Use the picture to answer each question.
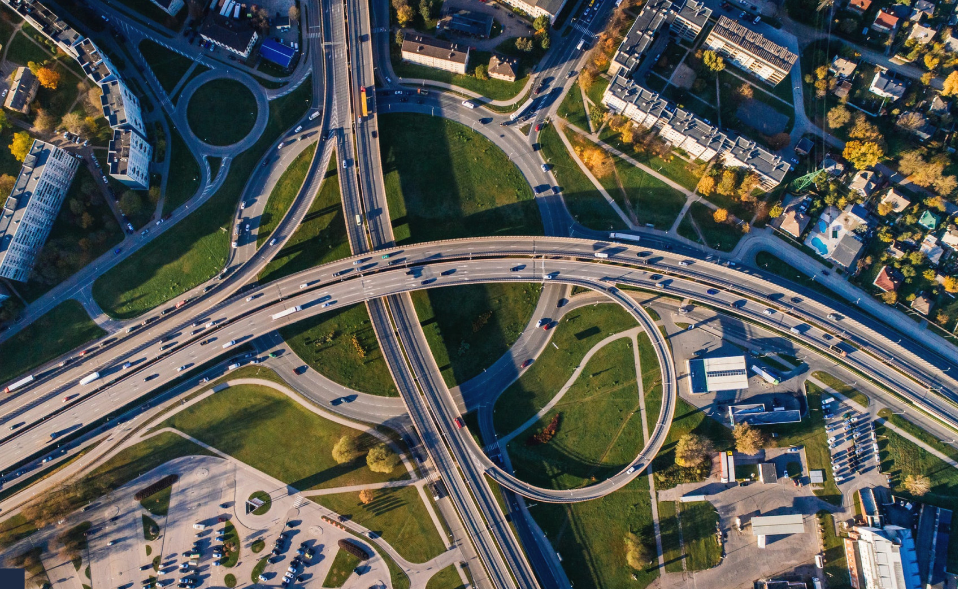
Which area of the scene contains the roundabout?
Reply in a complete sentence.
You can find the roundabout in the top left area of the picture.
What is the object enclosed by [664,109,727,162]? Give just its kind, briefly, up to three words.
building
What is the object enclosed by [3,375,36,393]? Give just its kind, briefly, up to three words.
vehicle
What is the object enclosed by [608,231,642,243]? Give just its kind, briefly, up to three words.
vehicle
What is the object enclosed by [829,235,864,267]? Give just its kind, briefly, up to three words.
house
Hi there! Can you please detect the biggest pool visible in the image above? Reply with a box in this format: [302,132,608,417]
[810,237,829,255]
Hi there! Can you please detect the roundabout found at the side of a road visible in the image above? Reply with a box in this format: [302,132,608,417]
[175,66,269,158]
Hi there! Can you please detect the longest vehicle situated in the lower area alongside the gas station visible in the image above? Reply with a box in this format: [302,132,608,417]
[748,362,780,387]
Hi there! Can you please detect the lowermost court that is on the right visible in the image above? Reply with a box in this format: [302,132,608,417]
[737,98,789,135]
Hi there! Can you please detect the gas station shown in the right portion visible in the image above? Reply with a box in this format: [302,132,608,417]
[703,356,748,392]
